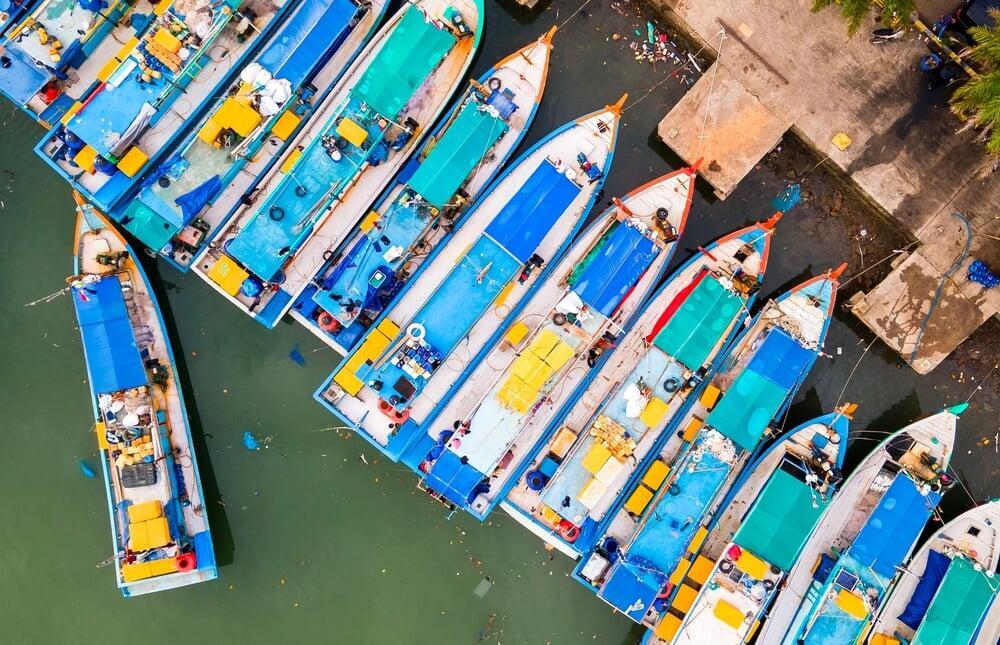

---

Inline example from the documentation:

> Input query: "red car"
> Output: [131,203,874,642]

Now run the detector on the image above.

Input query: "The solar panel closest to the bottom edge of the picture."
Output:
[834,569,857,592]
